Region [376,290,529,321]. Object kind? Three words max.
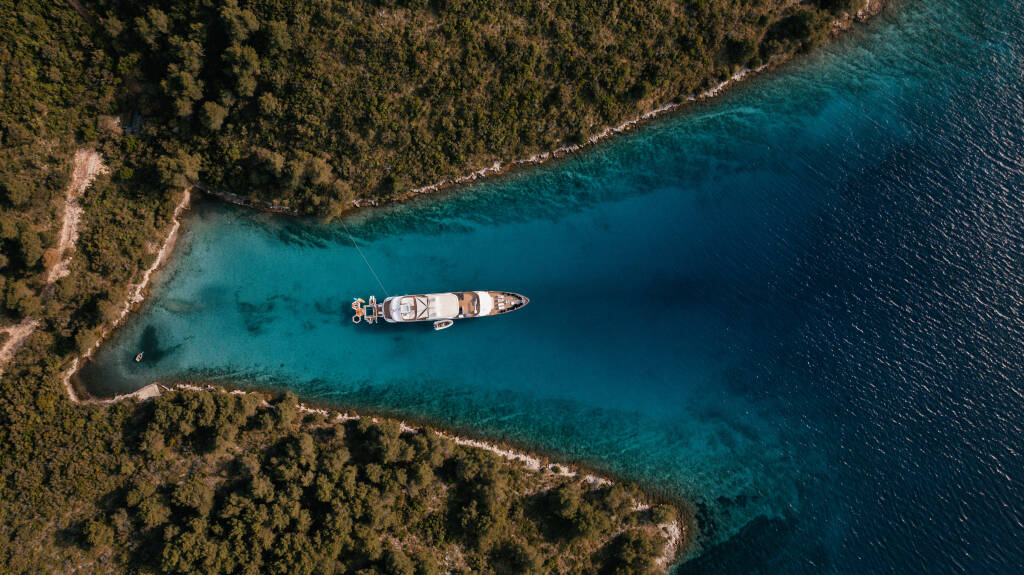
boat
